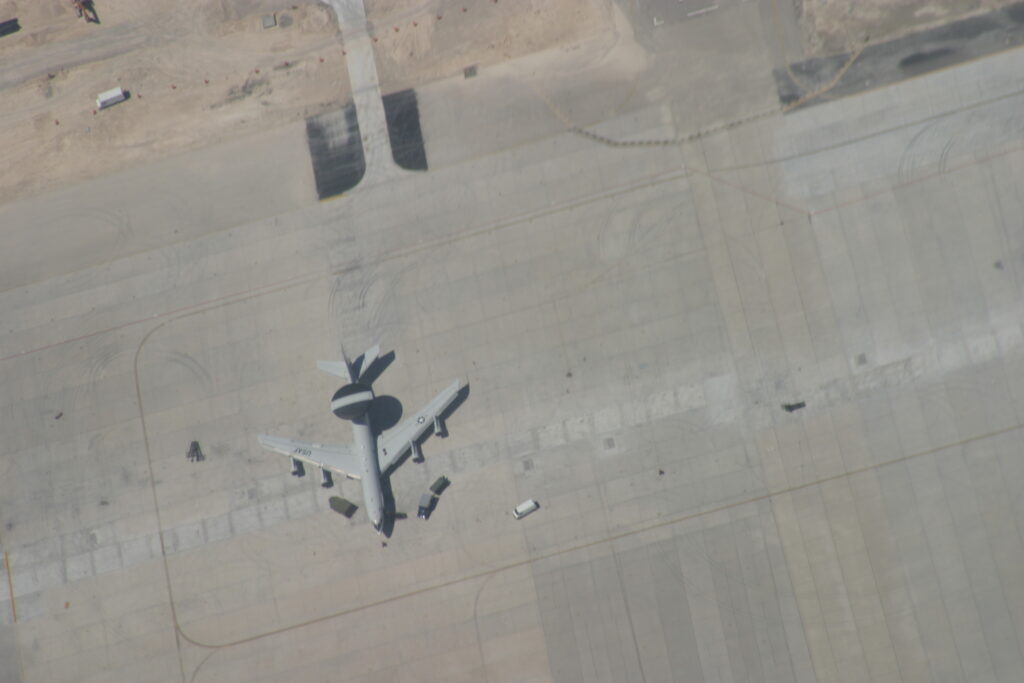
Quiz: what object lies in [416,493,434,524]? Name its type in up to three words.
vehicle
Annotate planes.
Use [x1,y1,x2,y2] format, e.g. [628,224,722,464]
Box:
[257,341,460,534]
